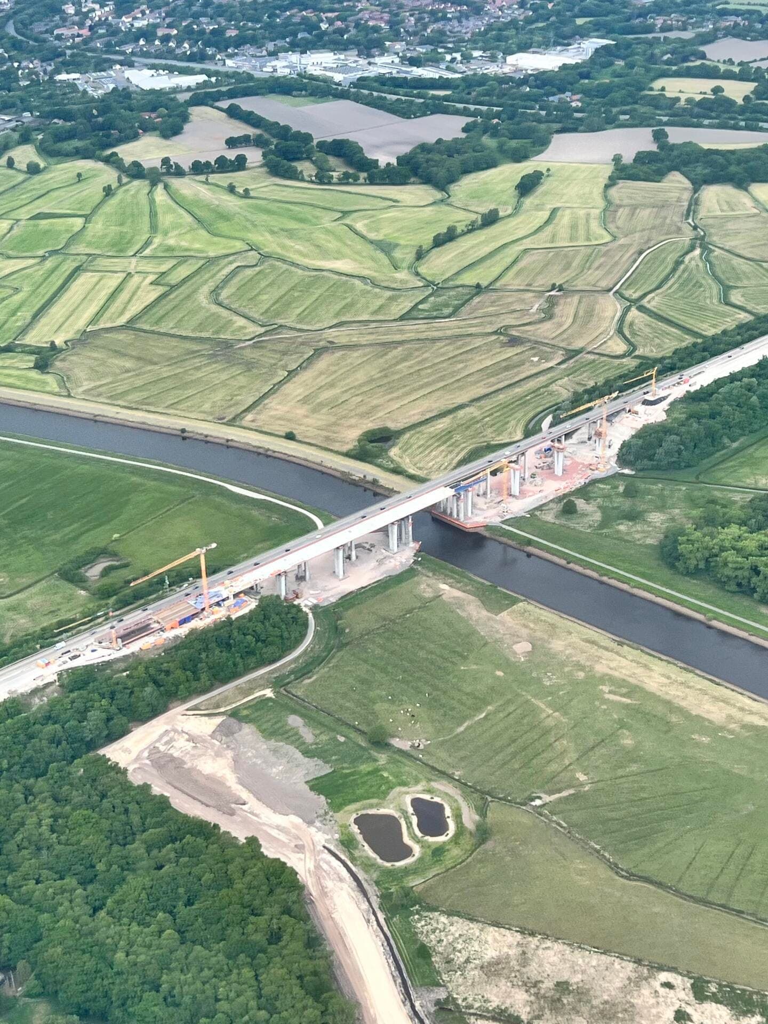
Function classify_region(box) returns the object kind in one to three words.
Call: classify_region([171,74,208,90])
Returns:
building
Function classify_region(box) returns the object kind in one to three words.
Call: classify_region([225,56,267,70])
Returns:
building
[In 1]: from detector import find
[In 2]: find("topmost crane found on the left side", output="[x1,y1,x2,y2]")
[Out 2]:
[131,540,222,614]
